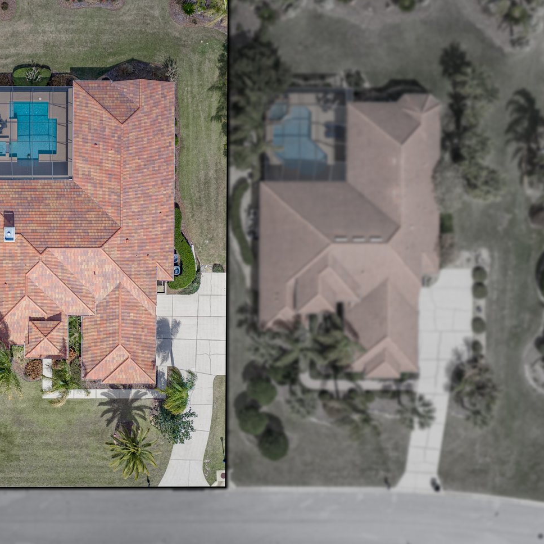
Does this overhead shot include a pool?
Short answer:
Yes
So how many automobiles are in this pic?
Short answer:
0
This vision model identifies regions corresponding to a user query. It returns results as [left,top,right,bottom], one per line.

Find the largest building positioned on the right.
[258,93,442,380]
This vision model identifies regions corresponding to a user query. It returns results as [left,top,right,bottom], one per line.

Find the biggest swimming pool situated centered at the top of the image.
[273,105,327,169]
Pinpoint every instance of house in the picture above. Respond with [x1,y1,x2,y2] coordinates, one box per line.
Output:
[0,76,176,386]
[258,93,442,380]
